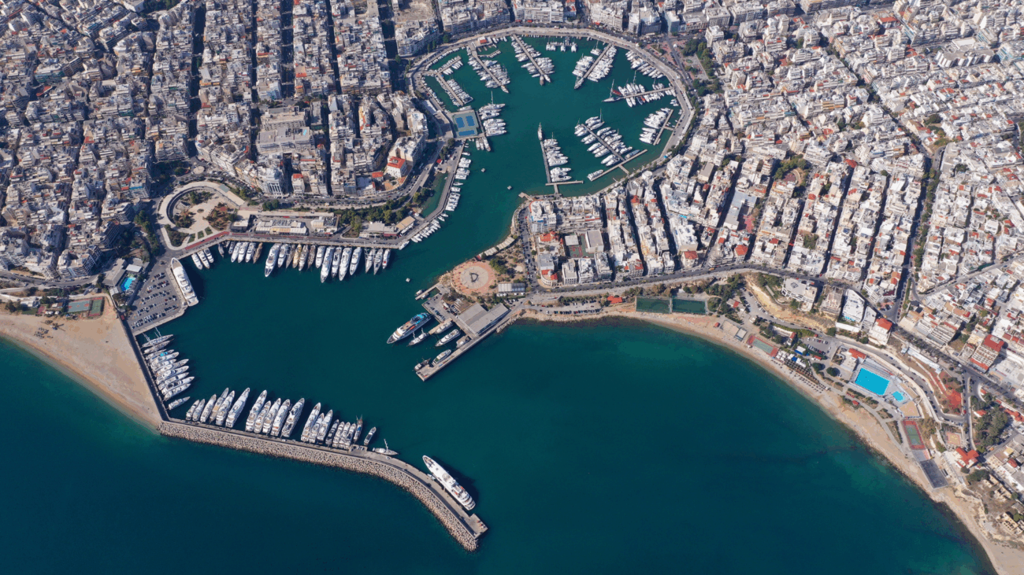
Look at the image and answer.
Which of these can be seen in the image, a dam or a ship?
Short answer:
ship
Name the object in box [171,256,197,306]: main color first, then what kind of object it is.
white ship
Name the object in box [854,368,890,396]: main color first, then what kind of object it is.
blue swimming pool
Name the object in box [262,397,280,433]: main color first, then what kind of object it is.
white boat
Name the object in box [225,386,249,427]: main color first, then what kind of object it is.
white boat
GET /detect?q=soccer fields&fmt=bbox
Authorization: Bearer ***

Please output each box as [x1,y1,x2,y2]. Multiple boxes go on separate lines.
[672,297,706,314]
[636,296,671,313]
